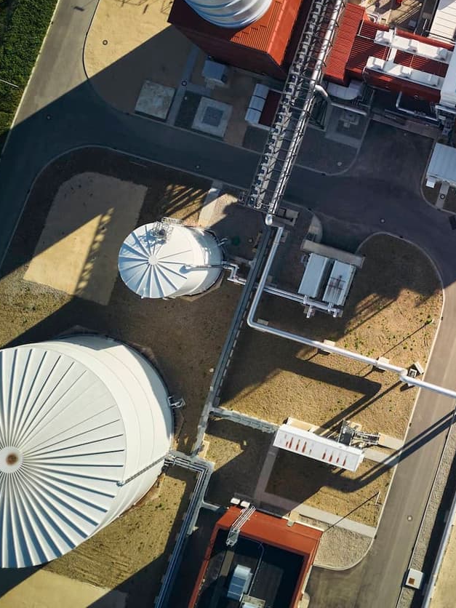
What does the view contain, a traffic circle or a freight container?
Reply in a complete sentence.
I can see a freight container in this picture.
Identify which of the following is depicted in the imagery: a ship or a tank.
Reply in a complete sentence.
Looking from above, you can make out a tank.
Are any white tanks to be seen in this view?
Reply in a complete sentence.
Yes, a white tank can be made out from above.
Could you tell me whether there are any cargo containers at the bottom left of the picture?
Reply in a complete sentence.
No, no cargo container is visible at the bottom left of the picture.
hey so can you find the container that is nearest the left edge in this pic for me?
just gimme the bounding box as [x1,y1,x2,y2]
[297,252,334,317]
